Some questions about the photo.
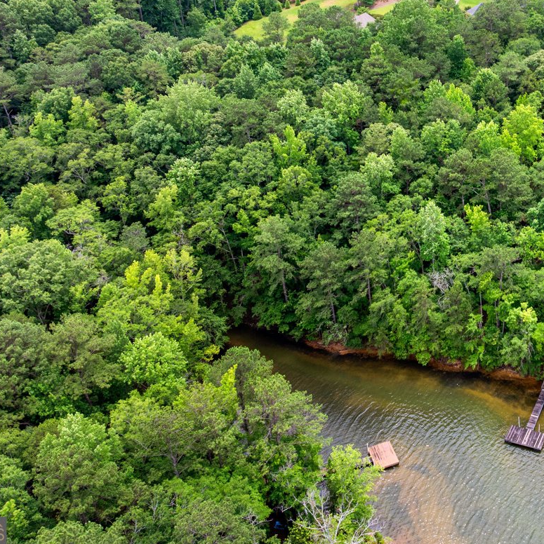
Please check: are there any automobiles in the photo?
No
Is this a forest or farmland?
forest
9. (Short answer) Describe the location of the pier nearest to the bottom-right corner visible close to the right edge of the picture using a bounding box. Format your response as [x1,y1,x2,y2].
[507,397,544,452]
